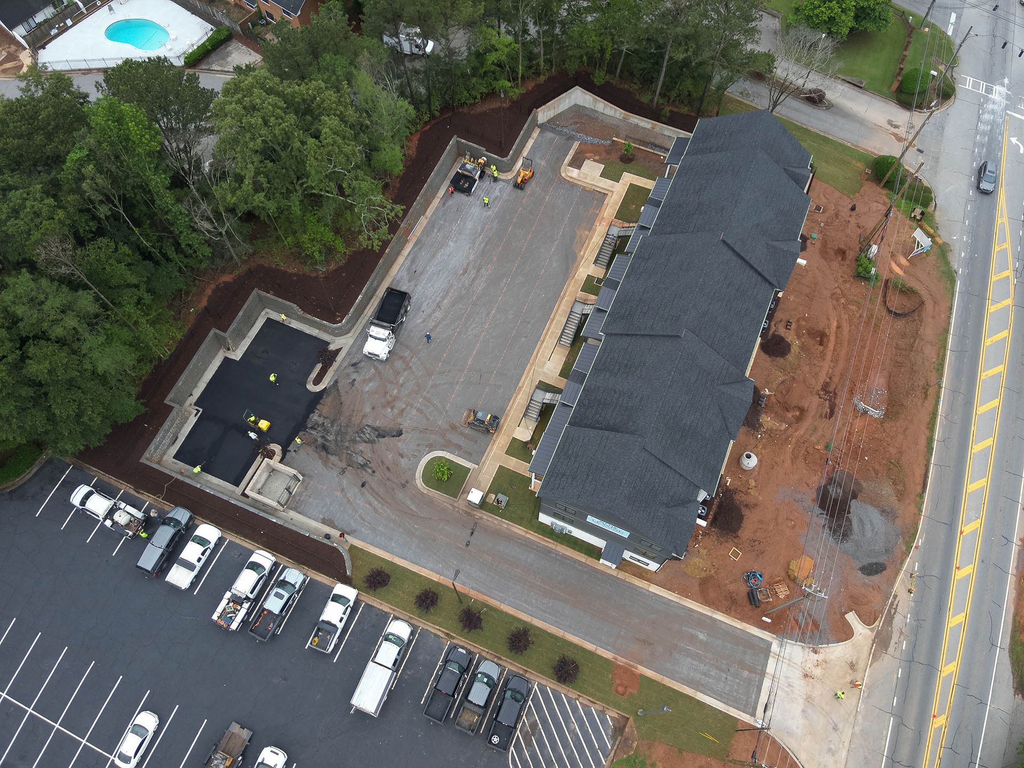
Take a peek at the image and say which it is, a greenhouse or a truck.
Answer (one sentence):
The image shows a truck.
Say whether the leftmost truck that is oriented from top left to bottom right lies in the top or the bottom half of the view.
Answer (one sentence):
It is in the bottom half that the leftmost truck that is oriented from top left to bottom right appears.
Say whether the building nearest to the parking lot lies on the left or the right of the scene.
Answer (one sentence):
The building nearest to the parking lot sits on the right side.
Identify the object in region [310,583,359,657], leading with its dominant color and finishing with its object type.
white truck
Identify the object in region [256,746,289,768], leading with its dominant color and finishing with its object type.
white car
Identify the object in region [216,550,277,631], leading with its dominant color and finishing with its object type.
white truck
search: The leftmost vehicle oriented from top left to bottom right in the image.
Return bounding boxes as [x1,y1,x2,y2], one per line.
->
[69,484,149,544]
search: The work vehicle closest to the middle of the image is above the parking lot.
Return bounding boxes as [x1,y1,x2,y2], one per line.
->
[462,408,500,435]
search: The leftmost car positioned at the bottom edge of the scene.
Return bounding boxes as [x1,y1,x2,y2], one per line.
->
[112,709,161,768]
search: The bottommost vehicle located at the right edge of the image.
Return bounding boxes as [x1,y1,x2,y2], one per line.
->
[974,158,999,198]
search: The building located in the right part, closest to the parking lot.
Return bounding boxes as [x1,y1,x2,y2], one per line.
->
[526,114,821,572]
